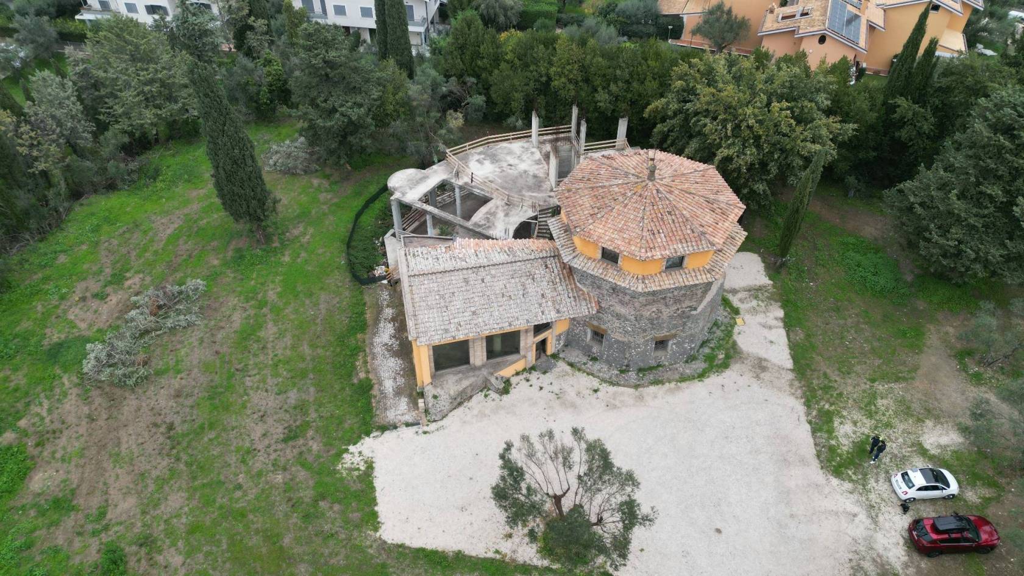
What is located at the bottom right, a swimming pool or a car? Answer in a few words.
car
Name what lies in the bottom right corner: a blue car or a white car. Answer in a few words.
white car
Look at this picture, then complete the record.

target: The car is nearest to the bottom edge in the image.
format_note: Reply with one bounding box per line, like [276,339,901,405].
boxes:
[904,507,1002,557]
